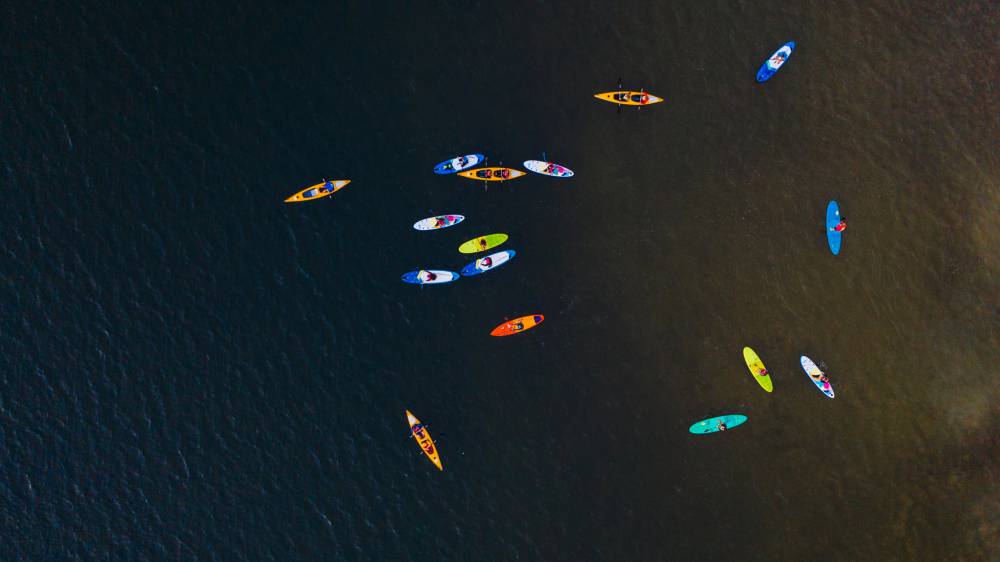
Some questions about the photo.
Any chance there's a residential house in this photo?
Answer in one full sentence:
No, I find no residential house anywhere in the image.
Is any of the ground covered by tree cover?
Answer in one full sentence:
No, tree cover can't be seen anywhere here.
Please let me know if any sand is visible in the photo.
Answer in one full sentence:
No, there's no sand in this view.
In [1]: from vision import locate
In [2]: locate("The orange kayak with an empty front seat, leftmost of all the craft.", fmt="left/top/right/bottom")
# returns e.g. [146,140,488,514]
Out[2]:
[283,180,350,201]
